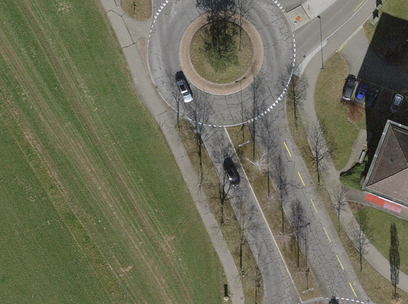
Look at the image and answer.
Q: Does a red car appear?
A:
No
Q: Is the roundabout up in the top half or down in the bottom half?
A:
top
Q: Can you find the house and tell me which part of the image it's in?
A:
right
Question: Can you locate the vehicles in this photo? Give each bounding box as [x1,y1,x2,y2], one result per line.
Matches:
[355,82,368,103]
[177,79,194,103]
[390,92,404,114]
[224,162,240,185]
[342,78,356,102]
